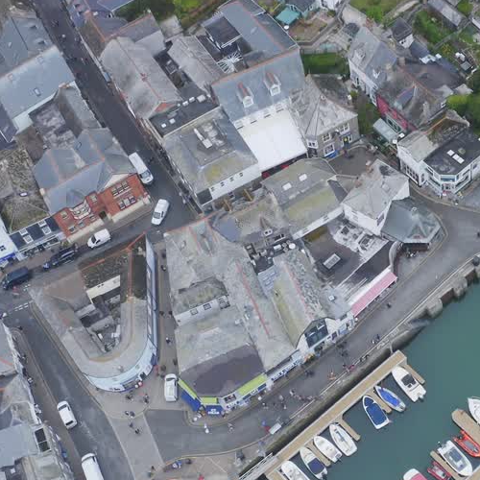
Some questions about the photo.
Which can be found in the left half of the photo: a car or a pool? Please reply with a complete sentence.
It is a car that can be seen in the left half of the photo.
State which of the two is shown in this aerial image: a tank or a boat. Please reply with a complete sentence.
The one in the frame is a boat.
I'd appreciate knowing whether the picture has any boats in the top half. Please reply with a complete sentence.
No, no boat appears in the top half.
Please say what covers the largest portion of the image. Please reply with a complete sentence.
The scene is dominated by buildings.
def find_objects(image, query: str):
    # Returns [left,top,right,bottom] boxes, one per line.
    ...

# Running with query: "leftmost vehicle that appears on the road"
[0,263,35,290]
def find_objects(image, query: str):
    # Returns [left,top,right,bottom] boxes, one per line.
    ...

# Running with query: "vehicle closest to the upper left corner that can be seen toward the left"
[127,148,152,182]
